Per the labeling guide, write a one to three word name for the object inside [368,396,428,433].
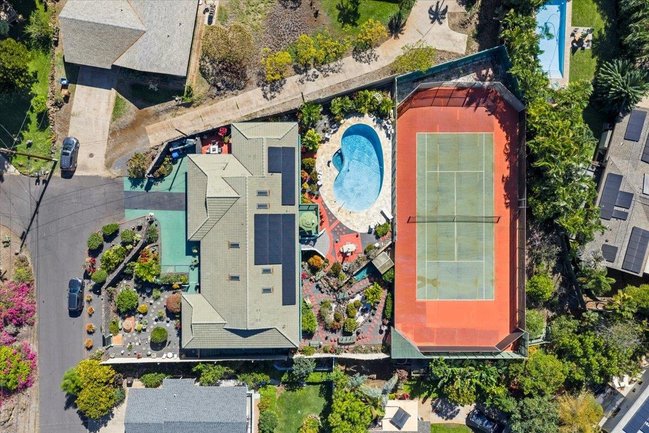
shed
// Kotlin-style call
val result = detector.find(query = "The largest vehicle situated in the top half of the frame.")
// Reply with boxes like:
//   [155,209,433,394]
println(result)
[60,138,79,171]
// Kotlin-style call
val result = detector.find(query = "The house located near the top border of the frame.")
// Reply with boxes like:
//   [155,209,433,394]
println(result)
[59,0,200,74]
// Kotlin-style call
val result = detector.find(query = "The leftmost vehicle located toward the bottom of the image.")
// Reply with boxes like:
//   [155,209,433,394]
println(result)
[67,278,86,313]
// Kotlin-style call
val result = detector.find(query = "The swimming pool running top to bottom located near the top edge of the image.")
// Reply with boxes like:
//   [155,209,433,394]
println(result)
[535,0,566,77]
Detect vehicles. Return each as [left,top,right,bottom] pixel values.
[468,408,501,433]
[60,138,79,171]
[67,278,86,313]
